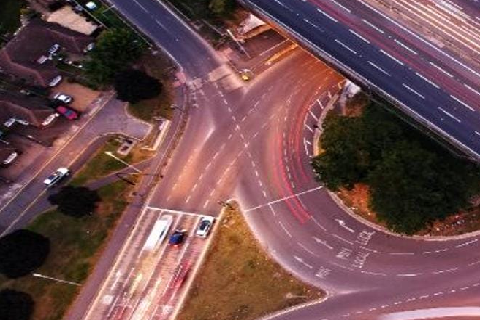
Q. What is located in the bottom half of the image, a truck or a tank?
truck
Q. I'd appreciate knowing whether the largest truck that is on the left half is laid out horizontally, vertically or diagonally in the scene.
diagonally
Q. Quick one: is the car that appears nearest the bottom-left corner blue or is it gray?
gray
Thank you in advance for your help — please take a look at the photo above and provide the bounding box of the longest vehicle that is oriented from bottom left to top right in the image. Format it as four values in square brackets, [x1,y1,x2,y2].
[133,209,175,255]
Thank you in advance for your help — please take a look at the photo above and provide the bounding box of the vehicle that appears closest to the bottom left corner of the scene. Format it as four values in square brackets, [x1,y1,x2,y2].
[44,166,71,188]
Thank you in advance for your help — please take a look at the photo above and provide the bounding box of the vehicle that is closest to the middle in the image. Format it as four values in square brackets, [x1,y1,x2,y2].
[196,215,214,239]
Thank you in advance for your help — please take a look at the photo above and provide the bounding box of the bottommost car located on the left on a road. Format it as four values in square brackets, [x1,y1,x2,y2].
[173,262,191,286]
